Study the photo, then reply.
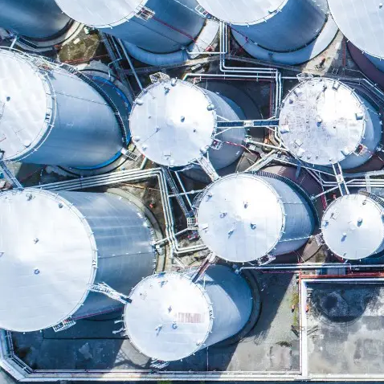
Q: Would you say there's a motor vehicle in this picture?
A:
No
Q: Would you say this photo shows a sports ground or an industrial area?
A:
industrial area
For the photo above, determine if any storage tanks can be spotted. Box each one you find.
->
[0,40,139,178]
[121,252,264,373]
[327,0,384,91]
[51,0,222,69]
[0,0,76,51]
[183,163,328,270]
[187,0,338,65]
[125,67,264,189]
[0,178,170,339]
[275,65,384,184]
